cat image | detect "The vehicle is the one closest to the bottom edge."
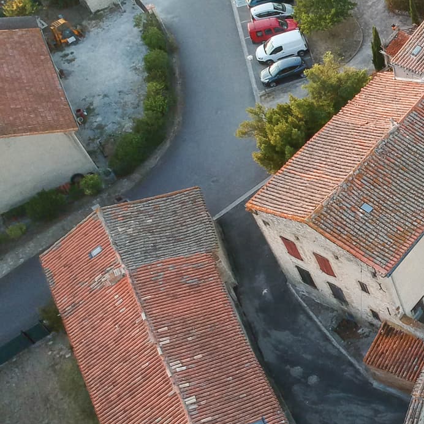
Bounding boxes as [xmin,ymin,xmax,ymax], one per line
[254,51,304,85]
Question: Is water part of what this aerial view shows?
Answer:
No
